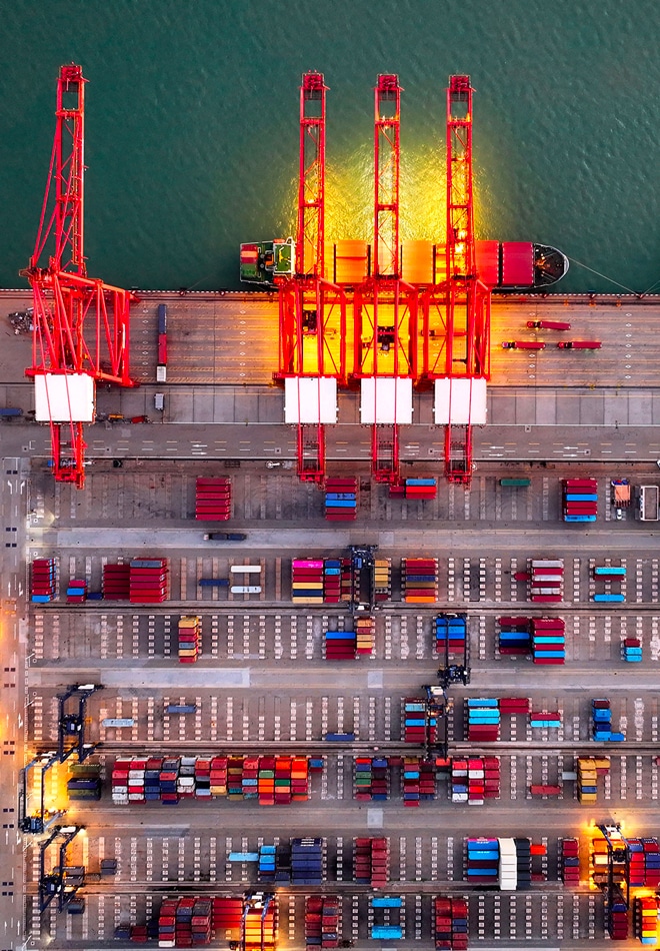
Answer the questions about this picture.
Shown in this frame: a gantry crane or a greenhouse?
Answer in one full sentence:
The one in the frame is a gantry crane.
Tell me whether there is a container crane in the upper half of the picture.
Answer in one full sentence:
Yes, I can see a container crane in the upper half of the picture.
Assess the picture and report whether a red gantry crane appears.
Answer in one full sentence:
Yes, this view includes a red gantry crane.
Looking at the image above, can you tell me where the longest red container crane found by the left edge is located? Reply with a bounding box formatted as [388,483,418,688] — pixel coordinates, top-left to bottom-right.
[21,57,136,500]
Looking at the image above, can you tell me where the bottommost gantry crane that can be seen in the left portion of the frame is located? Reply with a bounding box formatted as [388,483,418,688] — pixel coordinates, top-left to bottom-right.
[240,891,280,951]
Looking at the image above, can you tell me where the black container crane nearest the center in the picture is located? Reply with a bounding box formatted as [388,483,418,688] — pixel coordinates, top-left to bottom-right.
[345,541,382,613]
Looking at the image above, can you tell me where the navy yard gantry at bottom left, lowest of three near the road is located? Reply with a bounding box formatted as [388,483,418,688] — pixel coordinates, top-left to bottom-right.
[38,826,88,914]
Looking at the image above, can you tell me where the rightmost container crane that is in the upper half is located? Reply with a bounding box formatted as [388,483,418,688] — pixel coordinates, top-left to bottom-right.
[419,68,498,494]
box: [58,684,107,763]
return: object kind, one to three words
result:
container crane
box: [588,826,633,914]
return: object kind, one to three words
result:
container crane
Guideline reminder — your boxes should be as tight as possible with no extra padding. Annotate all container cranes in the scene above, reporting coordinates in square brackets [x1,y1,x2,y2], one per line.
[38,826,88,914]
[416,682,454,762]
[434,606,472,684]
[268,67,355,493]
[240,891,280,951]
[344,68,423,493]
[419,68,498,494]
[345,541,382,613]
[588,826,633,914]
[19,749,71,836]
[21,57,136,500]
[58,684,107,763]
